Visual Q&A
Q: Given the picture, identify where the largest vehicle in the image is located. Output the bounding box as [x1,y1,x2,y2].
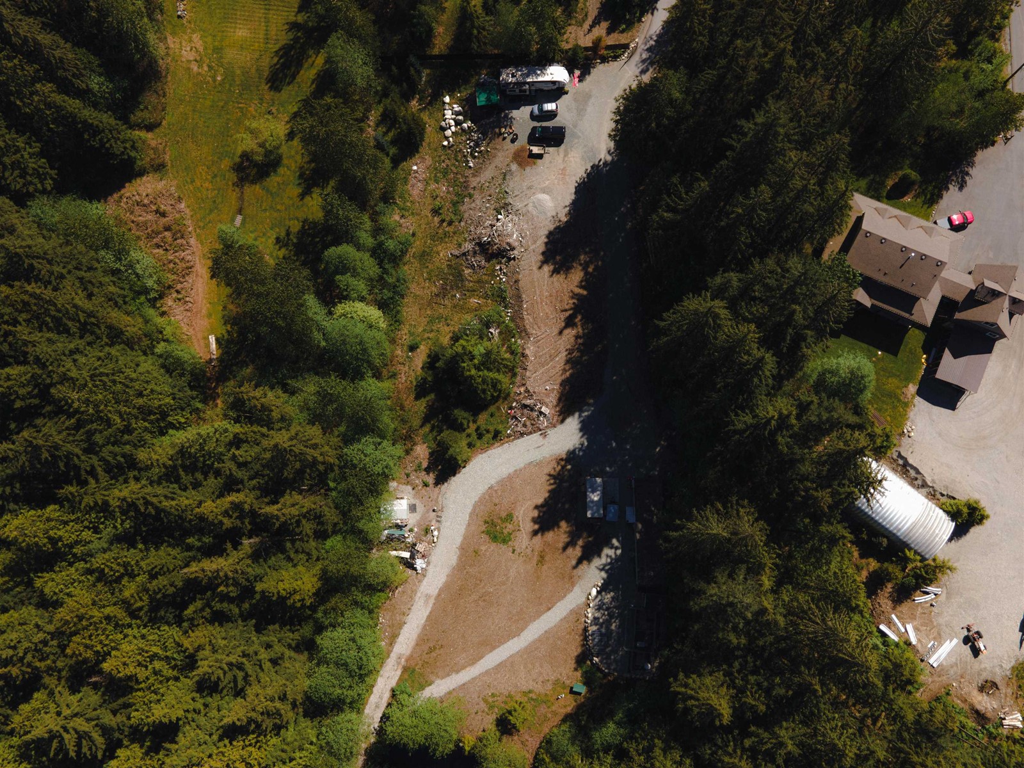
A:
[500,66,568,97]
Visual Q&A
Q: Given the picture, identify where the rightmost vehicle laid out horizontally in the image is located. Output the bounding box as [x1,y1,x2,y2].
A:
[934,212,971,228]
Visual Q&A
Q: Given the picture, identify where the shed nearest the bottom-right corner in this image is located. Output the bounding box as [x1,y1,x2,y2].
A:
[853,459,960,559]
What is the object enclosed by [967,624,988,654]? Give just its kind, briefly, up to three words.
work vehicle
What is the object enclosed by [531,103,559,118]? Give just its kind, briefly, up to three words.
car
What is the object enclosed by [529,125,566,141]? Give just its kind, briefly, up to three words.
vehicle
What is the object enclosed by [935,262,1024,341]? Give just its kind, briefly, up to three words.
building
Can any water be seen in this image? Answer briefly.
No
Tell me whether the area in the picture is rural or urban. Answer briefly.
rural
